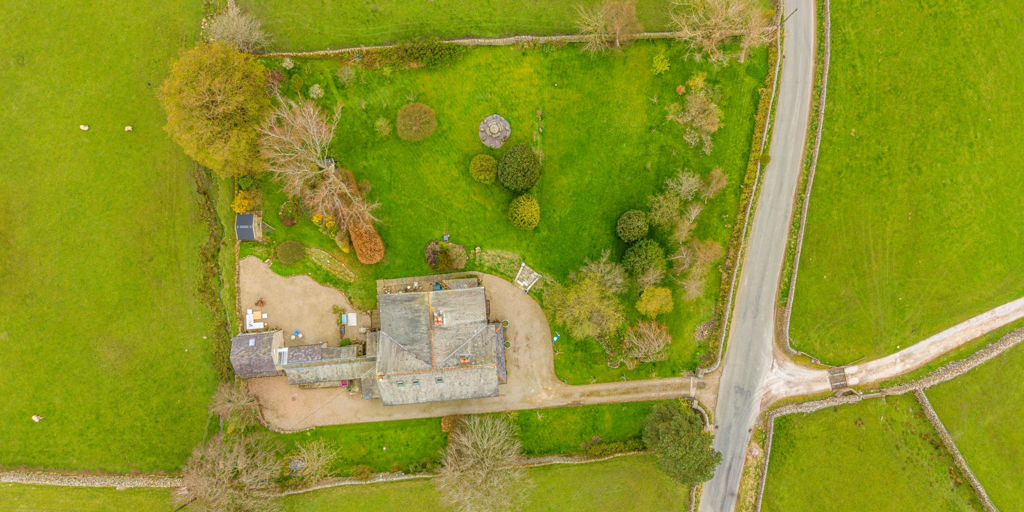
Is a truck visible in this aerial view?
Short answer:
No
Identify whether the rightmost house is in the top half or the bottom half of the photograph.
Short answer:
bottom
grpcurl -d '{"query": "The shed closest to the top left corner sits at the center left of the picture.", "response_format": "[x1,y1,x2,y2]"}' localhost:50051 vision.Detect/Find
[234,214,259,240]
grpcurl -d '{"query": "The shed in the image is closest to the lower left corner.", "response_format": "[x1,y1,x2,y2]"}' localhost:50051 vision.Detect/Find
[230,331,281,376]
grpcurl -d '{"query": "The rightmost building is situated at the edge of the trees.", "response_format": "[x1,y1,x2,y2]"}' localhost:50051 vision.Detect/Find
[376,278,508,406]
